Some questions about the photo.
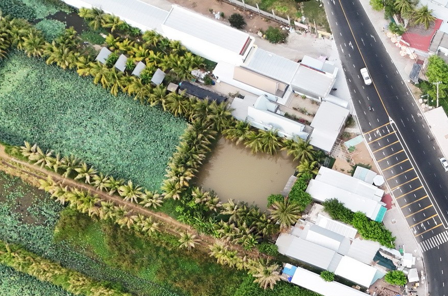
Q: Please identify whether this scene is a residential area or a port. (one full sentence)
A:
What you see here is a residential area.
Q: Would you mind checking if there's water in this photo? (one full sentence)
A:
Yes, the picture does contain water.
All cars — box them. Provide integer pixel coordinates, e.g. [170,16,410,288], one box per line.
[439,155,448,172]
[360,65,372,83]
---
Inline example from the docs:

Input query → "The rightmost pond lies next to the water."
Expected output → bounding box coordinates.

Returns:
[194,137,298,210]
